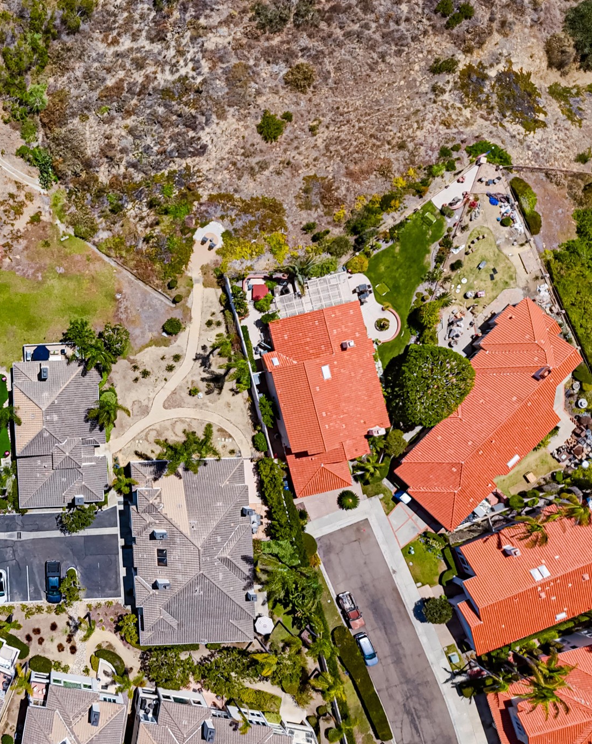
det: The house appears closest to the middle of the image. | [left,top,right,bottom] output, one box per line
[257,300,391,499]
